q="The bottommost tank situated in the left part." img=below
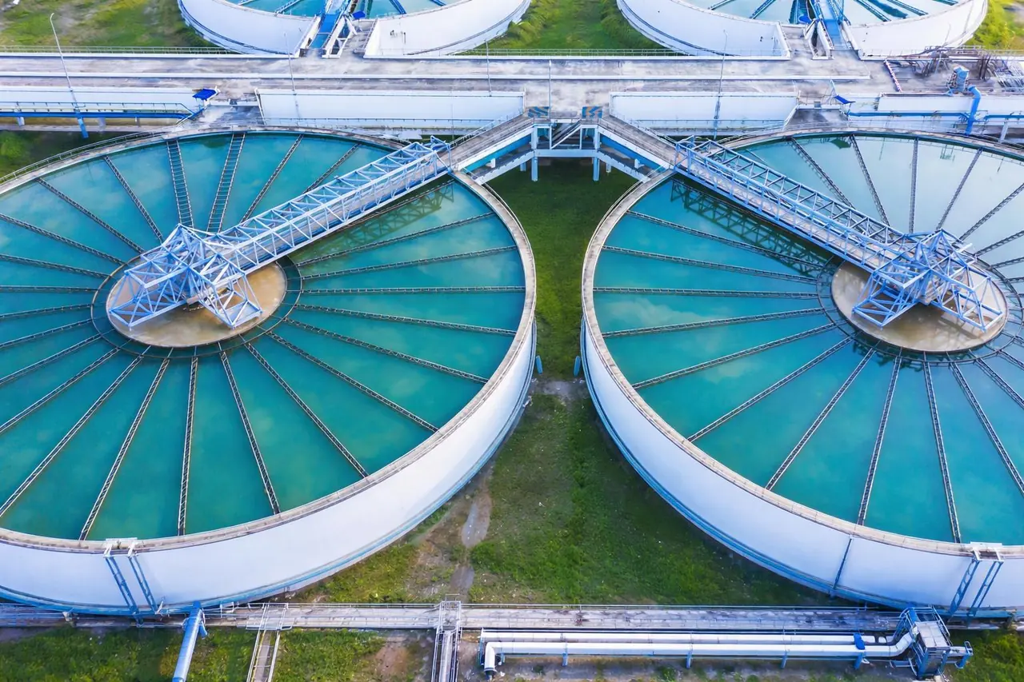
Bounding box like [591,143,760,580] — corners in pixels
[0,117,538,610]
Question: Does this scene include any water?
Yes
